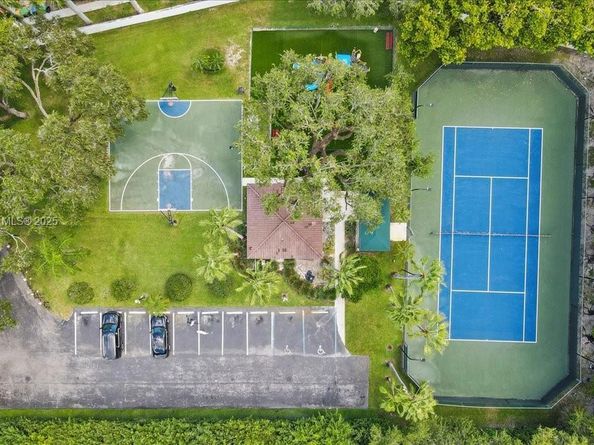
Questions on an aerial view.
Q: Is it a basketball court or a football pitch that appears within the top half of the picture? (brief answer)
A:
basketball court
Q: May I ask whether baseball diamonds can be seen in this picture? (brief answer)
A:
No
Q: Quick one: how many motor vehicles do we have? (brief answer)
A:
2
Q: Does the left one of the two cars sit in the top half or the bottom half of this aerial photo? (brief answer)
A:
bottom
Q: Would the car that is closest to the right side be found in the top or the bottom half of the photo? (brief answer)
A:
bottom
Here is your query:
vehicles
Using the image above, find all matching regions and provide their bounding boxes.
[147,314,169,359]
[98,311,121,358]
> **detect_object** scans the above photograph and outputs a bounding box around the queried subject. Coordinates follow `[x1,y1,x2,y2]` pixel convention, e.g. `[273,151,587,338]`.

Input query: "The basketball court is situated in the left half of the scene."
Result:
[110,99,242,211]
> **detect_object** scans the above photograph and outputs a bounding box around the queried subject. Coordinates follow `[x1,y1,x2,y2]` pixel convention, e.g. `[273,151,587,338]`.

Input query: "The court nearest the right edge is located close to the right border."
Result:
[402,71,575,399]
